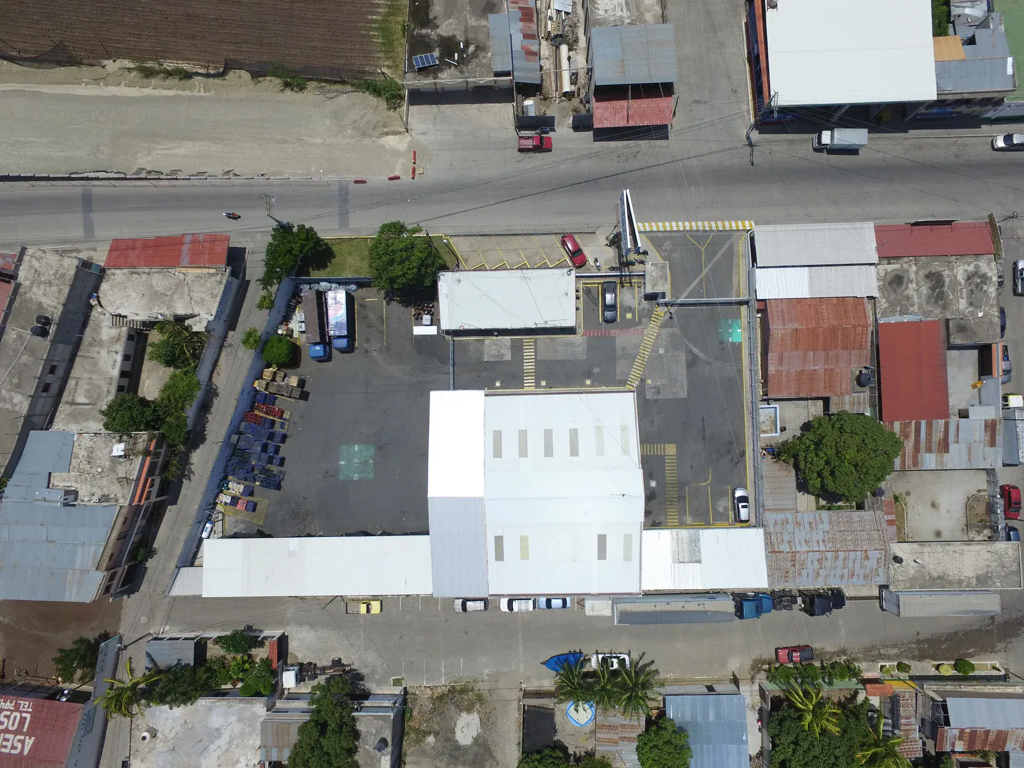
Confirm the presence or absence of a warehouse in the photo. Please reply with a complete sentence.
Yes, the picture does show a warehouse.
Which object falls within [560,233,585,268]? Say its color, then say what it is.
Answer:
red car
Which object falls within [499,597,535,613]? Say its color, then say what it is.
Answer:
white car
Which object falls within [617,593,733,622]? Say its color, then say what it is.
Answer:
gray trailer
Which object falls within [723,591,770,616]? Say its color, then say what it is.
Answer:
blue truck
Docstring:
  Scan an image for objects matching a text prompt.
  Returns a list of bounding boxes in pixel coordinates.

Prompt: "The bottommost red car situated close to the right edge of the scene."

[1000,484,1020,519]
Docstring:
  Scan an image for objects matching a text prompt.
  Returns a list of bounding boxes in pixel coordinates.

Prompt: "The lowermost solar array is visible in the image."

[411,51,440,70]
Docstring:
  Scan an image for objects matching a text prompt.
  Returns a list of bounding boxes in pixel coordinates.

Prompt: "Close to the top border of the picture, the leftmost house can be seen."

[405,0,513,98]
